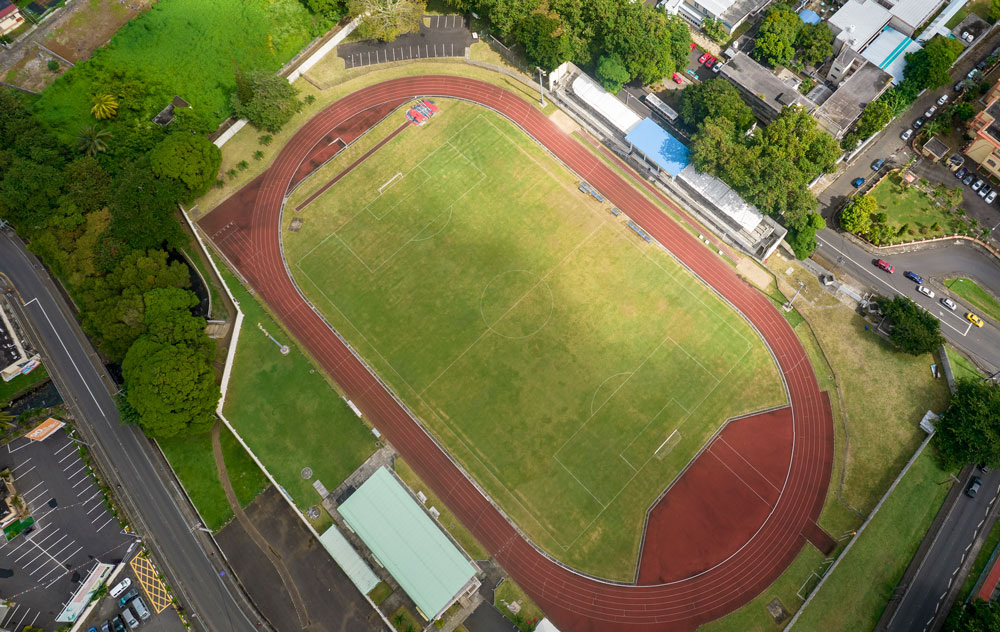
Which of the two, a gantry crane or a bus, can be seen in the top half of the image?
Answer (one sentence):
What appears in the top half of the image is a bus.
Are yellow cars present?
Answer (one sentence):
Yes, a yellow car appears in the view.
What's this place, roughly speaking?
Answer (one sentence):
This looks like a sports ground.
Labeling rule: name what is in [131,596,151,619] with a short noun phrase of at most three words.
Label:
vehicle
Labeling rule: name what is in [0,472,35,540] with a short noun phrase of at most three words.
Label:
building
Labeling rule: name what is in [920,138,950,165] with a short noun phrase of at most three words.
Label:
building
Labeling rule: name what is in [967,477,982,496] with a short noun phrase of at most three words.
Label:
car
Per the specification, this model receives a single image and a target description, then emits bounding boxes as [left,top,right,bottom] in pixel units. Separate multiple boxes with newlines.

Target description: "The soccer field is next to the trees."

[277,95,787,586]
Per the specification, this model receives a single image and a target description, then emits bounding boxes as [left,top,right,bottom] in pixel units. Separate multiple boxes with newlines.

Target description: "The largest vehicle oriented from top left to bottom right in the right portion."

[645,96,679,130]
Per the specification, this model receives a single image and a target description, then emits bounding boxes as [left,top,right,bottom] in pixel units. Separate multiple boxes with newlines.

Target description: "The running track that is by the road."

[196,71,841,632]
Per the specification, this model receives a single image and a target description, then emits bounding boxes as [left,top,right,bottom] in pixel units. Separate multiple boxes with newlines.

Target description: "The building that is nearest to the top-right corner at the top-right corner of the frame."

[952,13,991,54]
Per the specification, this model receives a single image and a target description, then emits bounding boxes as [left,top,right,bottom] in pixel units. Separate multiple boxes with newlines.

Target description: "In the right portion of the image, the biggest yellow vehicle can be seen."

[965,312,983,328]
